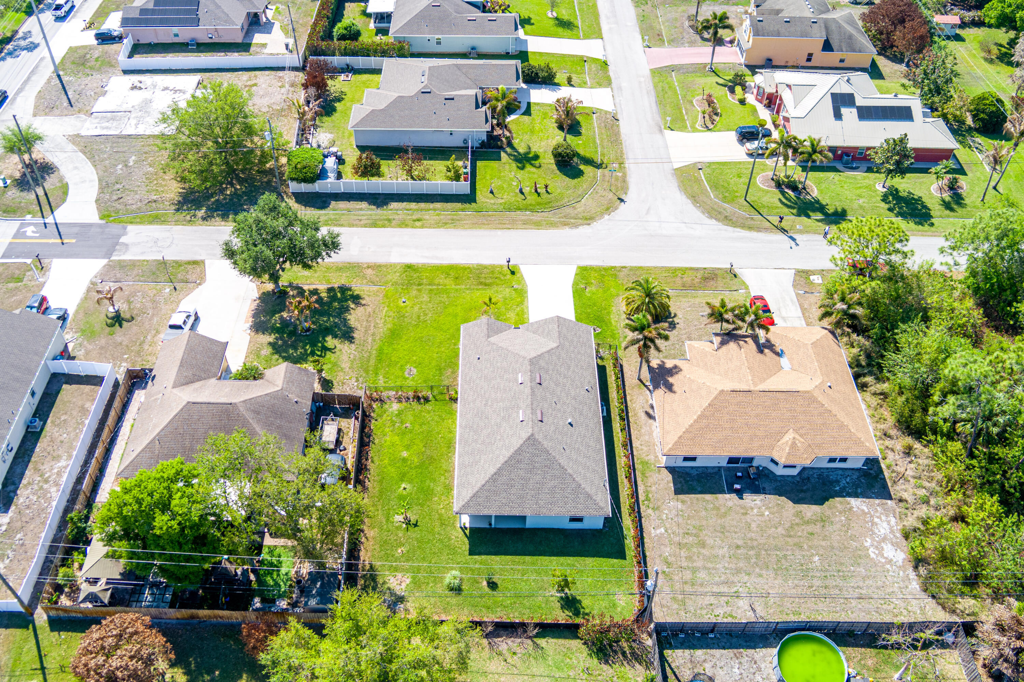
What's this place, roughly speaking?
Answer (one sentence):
The area seen from above is a residential area.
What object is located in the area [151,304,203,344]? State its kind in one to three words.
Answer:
truck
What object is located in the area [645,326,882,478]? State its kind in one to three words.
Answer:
house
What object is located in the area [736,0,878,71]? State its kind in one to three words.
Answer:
house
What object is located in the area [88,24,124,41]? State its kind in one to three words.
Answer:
car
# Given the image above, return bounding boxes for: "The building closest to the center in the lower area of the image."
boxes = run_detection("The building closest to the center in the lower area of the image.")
[452,315,613,530]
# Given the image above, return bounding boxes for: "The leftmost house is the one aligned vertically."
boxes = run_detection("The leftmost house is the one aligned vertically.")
[0,305,76,485]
